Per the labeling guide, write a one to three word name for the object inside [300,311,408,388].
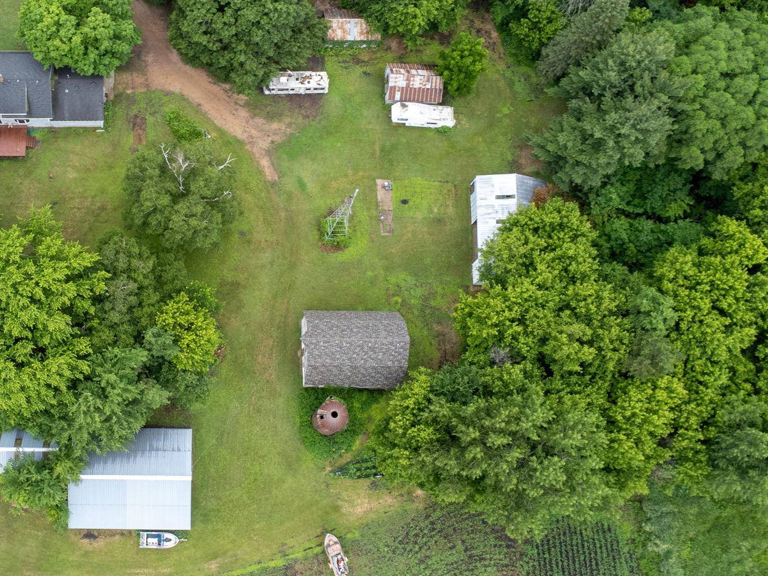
barn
